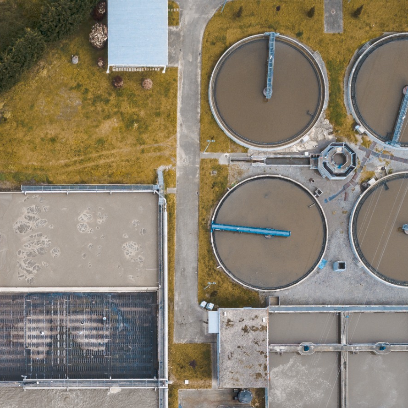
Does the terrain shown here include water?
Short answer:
Yes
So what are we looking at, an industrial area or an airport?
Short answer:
industrial area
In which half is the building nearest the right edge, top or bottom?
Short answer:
bottom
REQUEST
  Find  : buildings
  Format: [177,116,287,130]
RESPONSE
[209,307,268,387]
[108,0,168,69]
